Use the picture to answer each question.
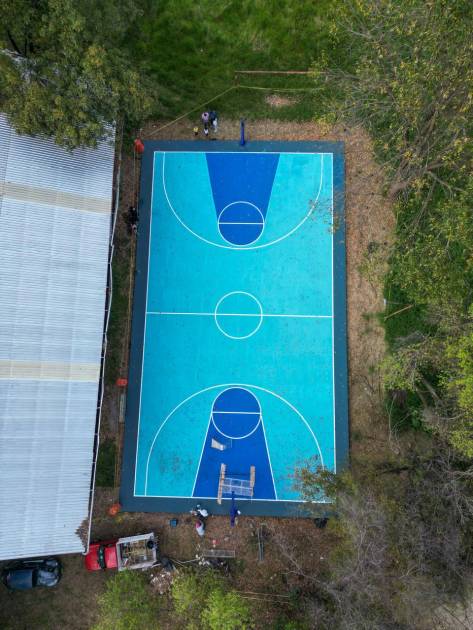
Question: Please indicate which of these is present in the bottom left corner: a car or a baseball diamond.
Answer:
car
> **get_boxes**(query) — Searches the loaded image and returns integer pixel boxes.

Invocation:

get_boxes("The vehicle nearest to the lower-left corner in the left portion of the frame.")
[1,557,63,593]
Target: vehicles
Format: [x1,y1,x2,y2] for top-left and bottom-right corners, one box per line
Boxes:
[81,532,162,575]
[1,557,63,593]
